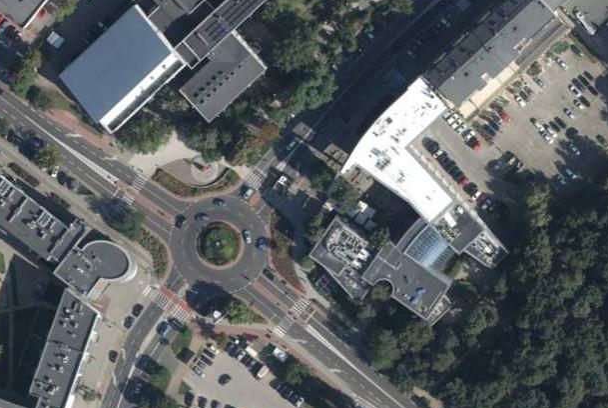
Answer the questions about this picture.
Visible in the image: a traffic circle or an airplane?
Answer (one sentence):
The image shows a traffic circle.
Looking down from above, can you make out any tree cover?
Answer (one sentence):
Yes, there's tree cover in this view.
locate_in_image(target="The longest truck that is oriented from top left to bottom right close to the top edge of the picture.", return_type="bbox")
[575,9,599,37]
